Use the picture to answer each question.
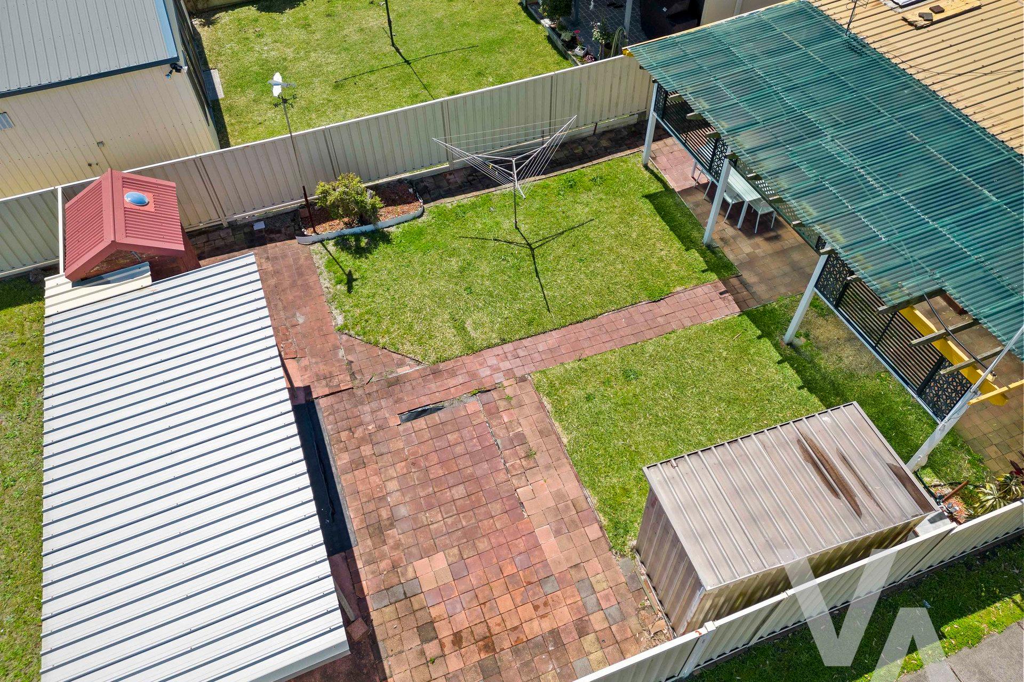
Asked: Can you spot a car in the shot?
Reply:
No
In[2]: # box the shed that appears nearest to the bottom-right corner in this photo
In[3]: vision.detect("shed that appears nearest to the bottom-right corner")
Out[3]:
[630,395,938,634]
